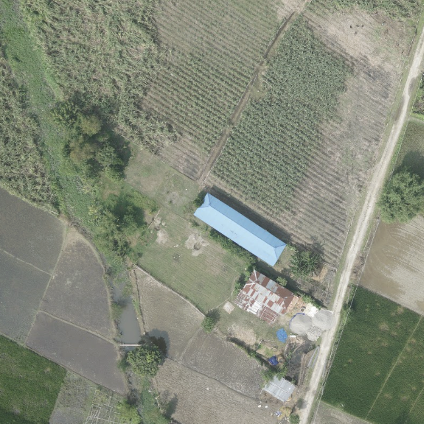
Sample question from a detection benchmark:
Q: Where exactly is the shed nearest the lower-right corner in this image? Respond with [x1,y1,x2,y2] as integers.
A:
[263,375,295,401]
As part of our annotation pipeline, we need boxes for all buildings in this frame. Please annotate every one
[263,375,295,401]
[194,193,285,266]
[234,271,293,324]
